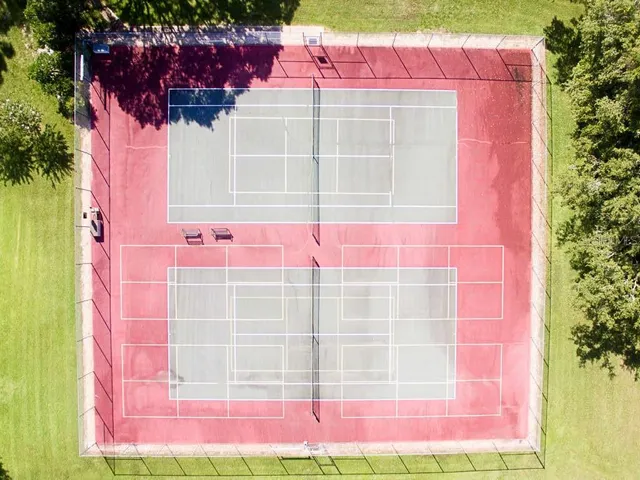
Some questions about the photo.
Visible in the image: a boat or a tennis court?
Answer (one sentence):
The image shows a tennis court.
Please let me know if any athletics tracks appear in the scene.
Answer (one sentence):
No, no athletics track is visible in the scene.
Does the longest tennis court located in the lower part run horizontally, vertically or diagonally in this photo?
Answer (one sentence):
From this overhead view, the longest tennis court located in the lower part appears to run horizontally.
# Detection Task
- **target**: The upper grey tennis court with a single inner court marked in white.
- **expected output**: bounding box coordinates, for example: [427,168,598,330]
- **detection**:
[168,89,457,224]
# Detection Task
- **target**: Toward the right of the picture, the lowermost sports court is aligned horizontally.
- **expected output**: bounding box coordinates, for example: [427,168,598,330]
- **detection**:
[341,344,502,417]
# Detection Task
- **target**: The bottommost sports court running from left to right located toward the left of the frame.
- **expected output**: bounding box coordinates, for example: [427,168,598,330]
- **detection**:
[122,344,284,418]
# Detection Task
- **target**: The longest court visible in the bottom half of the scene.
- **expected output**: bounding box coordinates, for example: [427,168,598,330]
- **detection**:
[169,268,456,400]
